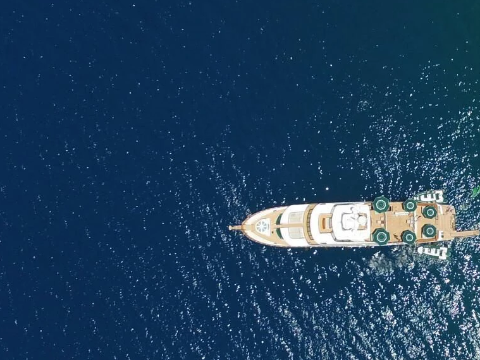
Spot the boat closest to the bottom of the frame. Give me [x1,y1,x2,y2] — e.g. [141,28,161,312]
[416,244,454,259]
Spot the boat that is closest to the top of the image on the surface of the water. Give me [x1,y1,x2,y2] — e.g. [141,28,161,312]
[412,189,450,202]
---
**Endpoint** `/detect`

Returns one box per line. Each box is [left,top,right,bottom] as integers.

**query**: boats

[416,244,454,259]
[412,189,450,202]
[228,201,480,247]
